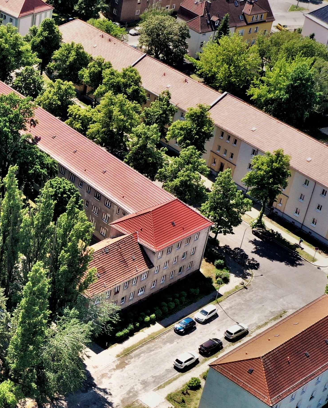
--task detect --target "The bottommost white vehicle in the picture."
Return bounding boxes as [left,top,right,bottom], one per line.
[172,352,202,371]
